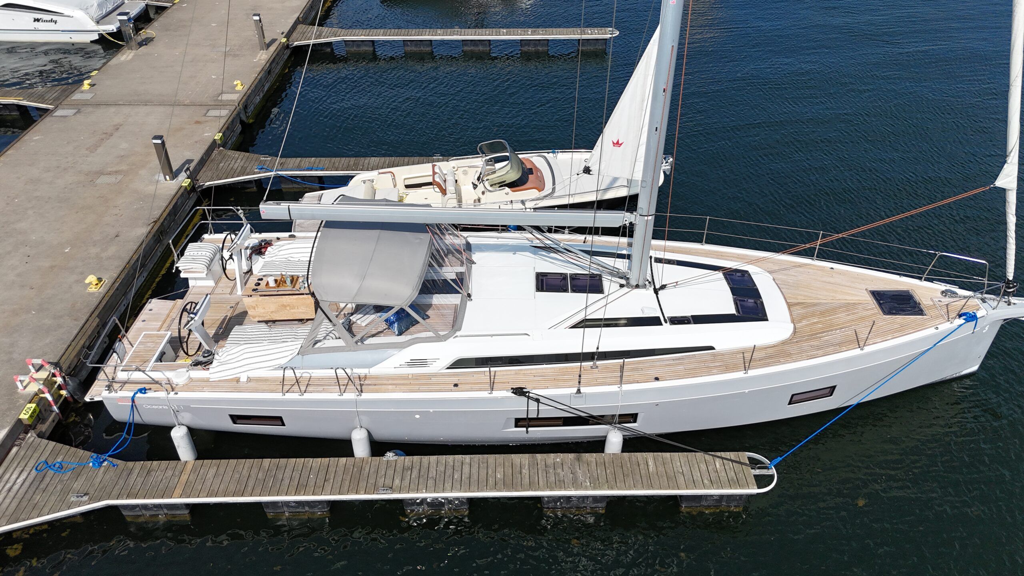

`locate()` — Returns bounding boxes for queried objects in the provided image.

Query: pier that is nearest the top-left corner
[0,84,82,114]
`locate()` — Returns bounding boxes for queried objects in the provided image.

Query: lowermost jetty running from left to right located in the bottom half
[0,437,785,529]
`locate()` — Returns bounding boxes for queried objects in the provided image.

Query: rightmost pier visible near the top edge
[292,23,629,49]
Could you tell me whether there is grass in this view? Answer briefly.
No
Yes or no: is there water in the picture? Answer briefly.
Yes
